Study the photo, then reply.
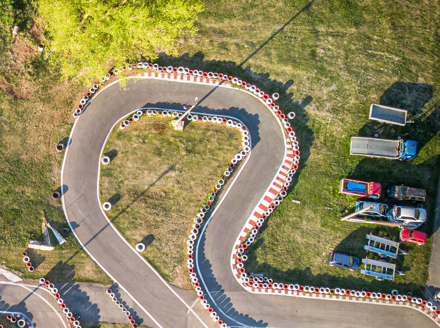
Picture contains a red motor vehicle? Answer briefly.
Yes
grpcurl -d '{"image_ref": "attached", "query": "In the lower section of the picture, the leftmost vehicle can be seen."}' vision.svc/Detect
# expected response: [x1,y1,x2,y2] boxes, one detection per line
[328,253,359,270]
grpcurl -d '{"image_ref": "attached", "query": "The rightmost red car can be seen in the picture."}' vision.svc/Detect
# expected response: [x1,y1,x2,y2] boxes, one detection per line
[398,228,428,244]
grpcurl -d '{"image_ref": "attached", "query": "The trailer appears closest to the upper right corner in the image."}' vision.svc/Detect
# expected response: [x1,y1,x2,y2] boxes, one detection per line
[369,103,411,126]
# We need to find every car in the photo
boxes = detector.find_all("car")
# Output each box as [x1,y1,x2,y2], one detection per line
[328,253,359,270]
[429,287,440,306]
[398,228,428,244]
[355,201,388,217]
[387,185,425,202]
[392,205,426,221]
